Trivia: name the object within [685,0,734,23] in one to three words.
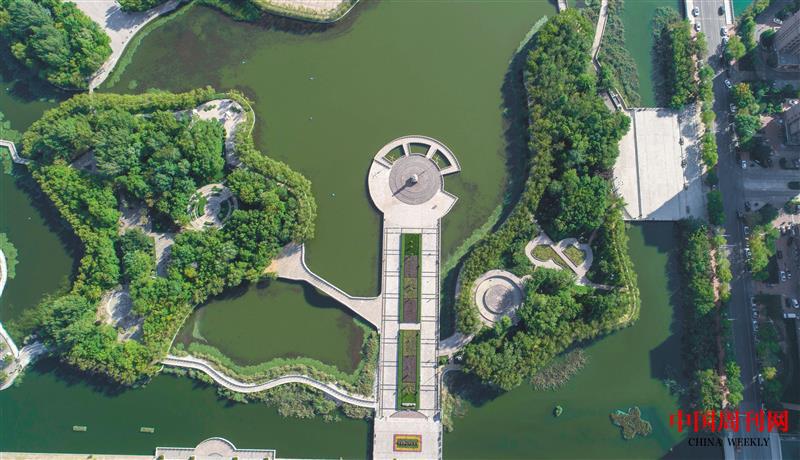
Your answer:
bridge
